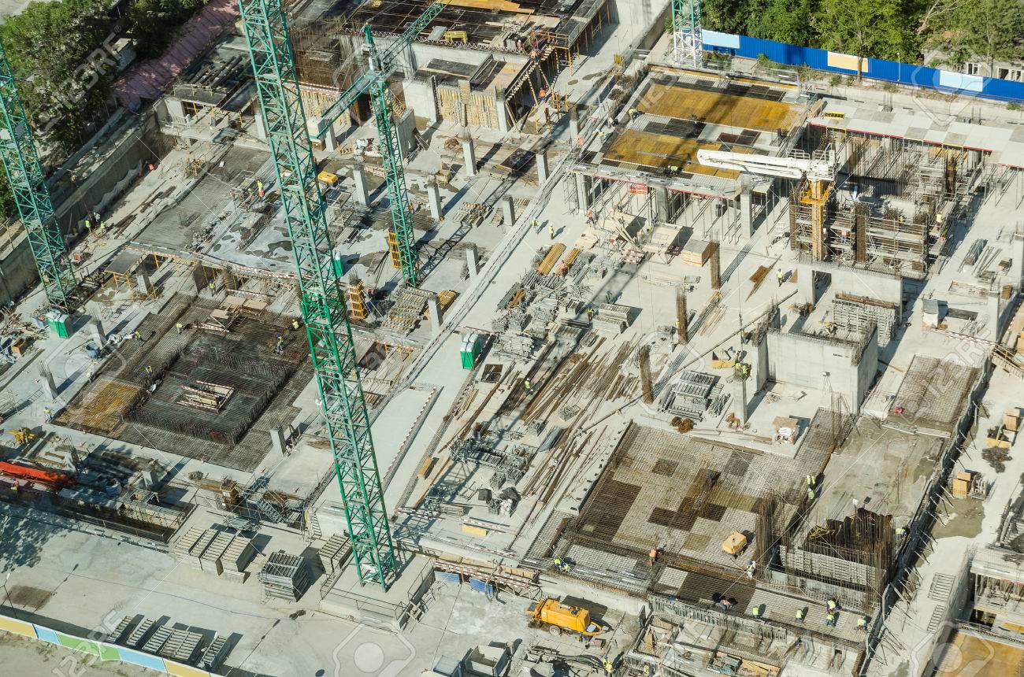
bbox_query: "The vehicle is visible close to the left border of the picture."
[0,457,73,502]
